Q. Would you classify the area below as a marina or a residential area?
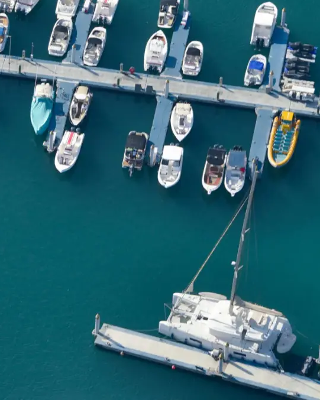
marina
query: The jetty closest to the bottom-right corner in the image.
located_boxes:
[218,359,320,400]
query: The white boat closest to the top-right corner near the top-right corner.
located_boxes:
[250,2,277,51]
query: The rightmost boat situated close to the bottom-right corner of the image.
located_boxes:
[298,354,314,378]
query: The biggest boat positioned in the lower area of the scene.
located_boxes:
[160,183,293,367]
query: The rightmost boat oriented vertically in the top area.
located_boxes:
[267,109,303,169]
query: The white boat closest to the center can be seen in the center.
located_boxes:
[158,141,183,191]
